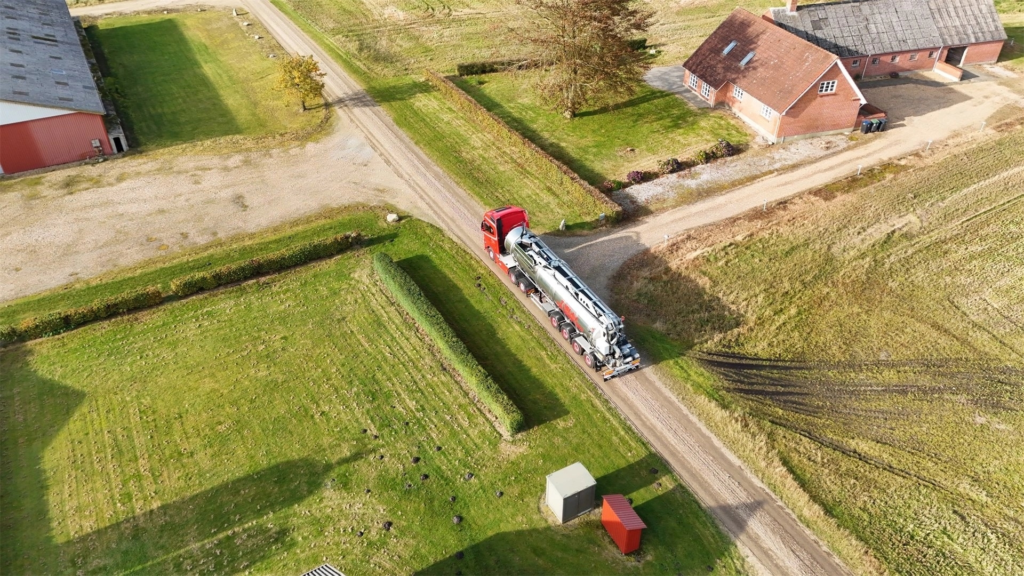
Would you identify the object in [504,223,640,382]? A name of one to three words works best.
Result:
trailer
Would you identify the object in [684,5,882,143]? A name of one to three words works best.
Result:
house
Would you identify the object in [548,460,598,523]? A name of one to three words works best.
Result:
shed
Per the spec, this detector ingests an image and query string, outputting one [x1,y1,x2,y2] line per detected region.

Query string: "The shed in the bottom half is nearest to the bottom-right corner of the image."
[602,494,645,554]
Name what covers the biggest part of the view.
grass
